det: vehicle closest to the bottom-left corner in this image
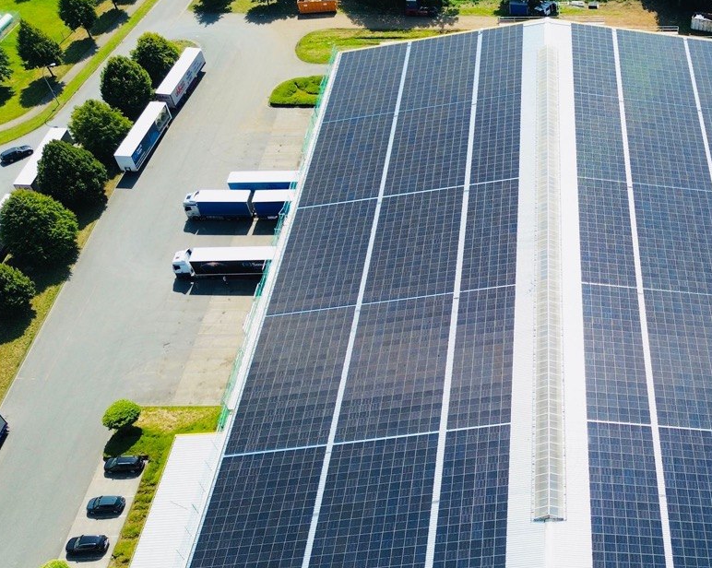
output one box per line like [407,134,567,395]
[63,536,113,558]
